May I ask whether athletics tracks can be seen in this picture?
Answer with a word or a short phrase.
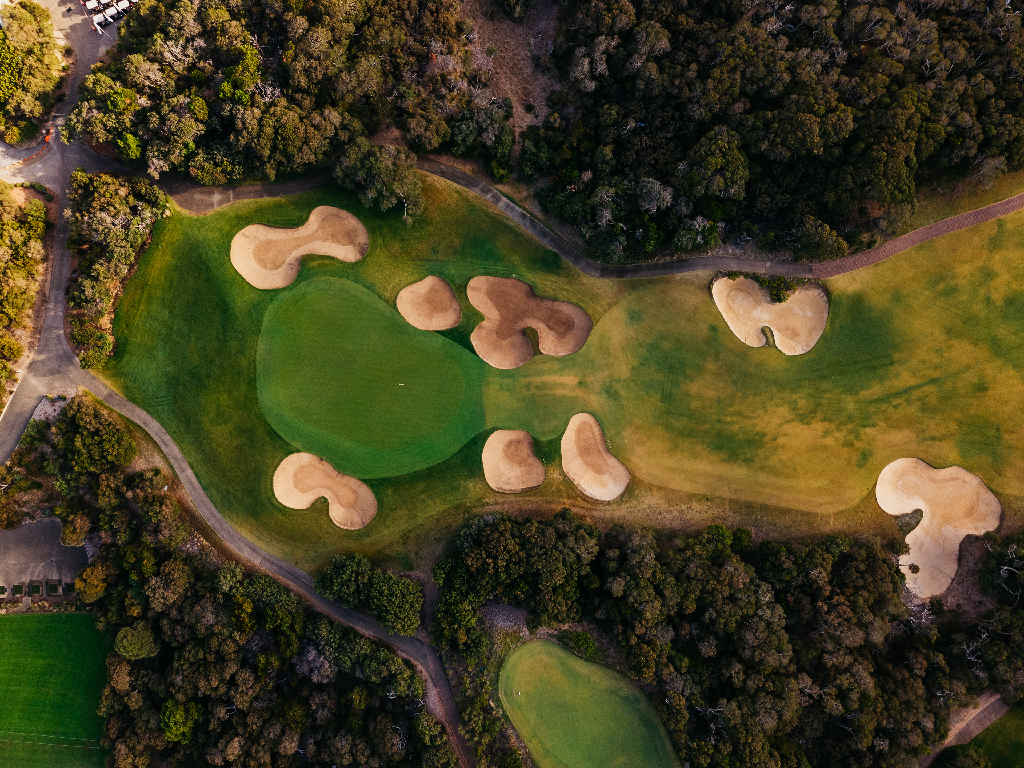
No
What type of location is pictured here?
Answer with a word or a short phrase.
golf course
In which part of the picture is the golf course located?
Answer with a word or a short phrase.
center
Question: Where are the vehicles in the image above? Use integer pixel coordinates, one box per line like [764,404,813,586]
[86,0,104,15]
[93,14,112,29]
[106,7,124,22]
[131,0,142,6]
[118,0,135,15]
[100,0,118,10]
